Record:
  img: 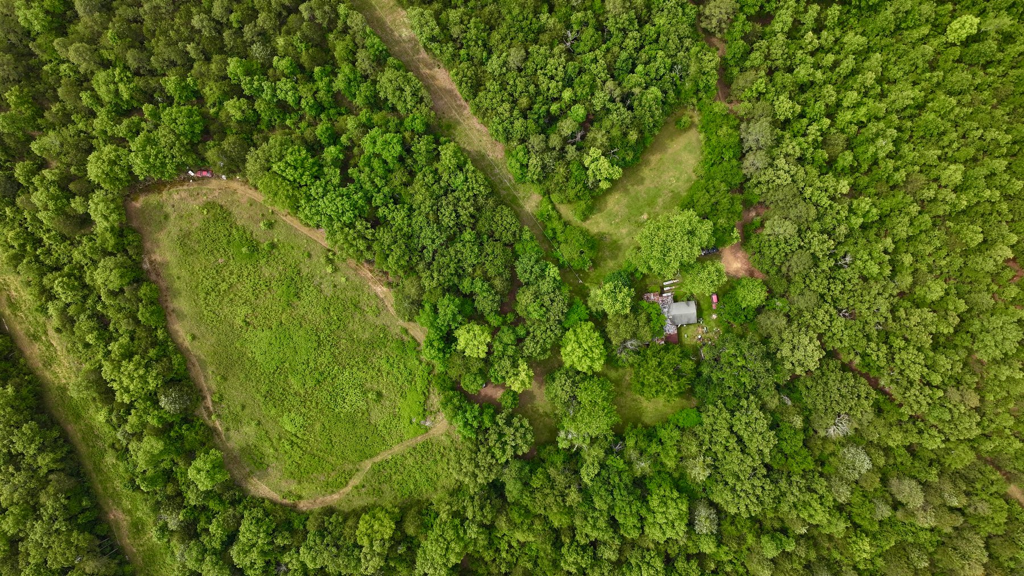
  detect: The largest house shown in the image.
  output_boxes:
[669,300,697,324]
